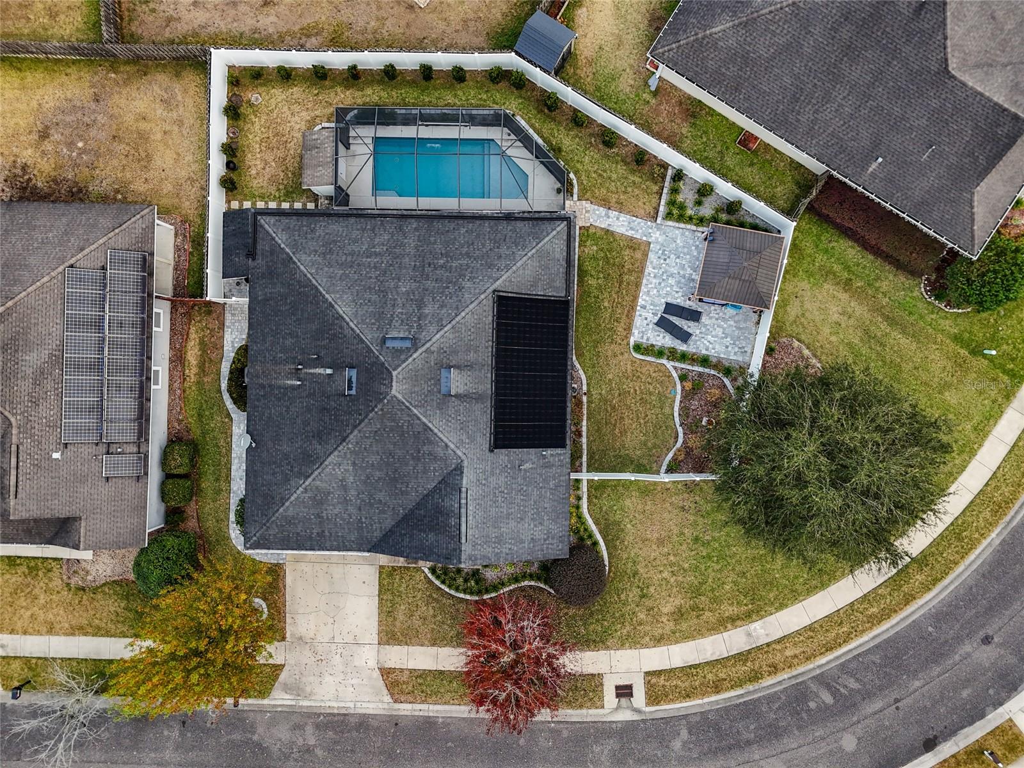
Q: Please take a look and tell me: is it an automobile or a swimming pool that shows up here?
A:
swimming pool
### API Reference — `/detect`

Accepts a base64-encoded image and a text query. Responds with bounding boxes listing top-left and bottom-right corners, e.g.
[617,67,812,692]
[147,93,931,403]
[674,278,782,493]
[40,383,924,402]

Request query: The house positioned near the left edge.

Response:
[0,202,176,549]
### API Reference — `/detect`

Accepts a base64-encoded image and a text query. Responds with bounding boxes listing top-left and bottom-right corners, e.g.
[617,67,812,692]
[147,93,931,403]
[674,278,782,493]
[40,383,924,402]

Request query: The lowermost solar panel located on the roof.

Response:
[103,454,143,476]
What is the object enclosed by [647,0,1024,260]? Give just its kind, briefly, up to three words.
house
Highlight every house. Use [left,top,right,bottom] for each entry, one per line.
[647,0,1024,260]
[0,202,176,549]
[221,209,575,565]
